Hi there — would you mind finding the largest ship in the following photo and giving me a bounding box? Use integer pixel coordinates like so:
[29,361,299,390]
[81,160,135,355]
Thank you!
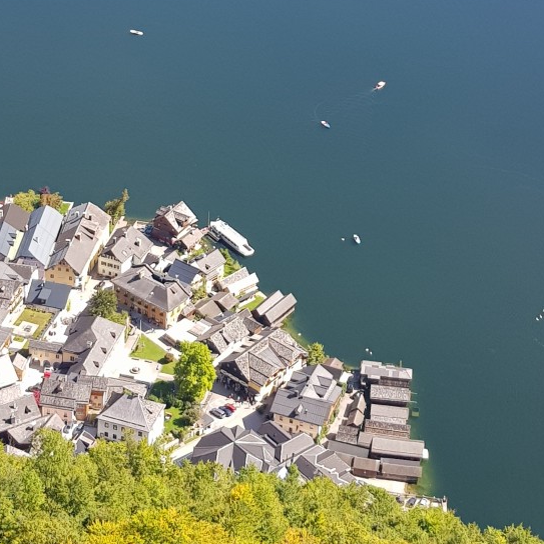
[208,214,253,257]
